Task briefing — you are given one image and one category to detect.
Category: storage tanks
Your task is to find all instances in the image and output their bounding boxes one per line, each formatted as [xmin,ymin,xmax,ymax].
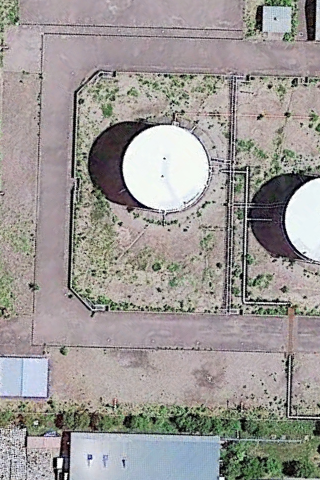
[118,118,217,217]
[278,172,320,268]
